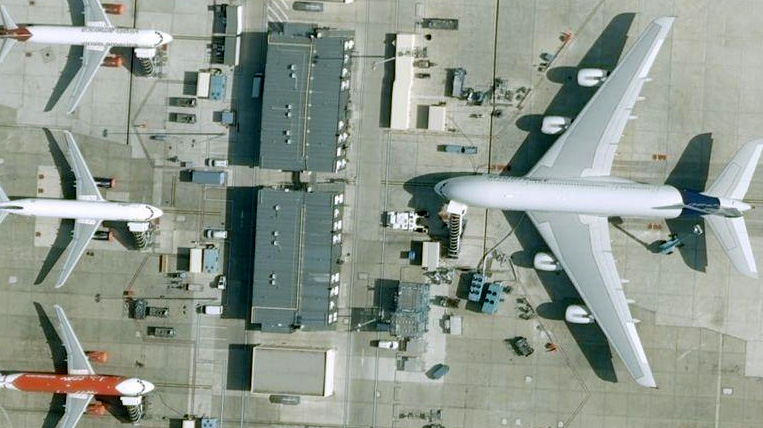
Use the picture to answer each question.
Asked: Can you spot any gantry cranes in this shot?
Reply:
No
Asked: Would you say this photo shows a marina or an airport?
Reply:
airport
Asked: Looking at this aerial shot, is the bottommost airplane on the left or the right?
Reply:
left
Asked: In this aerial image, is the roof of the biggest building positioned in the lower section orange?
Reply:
No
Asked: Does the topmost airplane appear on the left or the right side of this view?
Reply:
left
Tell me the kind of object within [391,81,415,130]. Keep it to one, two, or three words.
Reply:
shed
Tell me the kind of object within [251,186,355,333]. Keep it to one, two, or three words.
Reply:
building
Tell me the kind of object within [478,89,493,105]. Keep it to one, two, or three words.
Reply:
work vehicle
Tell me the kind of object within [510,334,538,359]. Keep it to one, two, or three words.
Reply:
work vehicle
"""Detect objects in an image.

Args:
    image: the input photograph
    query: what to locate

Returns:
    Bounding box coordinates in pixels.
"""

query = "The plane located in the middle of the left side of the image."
[0,130,162,291]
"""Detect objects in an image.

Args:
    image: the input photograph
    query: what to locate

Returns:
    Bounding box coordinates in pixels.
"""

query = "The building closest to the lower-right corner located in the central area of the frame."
[421,240,443,268]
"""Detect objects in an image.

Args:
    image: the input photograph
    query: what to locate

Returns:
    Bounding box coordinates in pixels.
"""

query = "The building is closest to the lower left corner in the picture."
[250,344,335,397]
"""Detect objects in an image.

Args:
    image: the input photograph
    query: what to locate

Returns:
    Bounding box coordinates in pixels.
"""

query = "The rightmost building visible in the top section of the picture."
[428,105,449,131]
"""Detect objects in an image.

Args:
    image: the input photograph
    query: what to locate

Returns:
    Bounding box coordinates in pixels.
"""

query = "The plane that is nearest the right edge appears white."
[434,16,763,388]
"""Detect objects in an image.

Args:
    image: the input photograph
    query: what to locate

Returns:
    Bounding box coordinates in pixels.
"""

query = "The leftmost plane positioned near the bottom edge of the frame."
[0,304,154,428]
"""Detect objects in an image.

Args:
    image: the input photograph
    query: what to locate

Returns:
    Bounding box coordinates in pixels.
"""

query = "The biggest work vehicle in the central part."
[390,210,431,233]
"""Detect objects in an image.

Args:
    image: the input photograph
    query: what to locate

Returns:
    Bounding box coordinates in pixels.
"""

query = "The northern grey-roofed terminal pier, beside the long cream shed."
[259,19,364,170]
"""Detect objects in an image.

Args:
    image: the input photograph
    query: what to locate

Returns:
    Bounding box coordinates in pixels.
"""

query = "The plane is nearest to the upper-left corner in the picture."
[0,0,172,117]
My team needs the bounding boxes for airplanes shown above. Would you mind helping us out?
[0,0,172,117]
[434,16,763,388]
[0,130,162,291]
[0,304,154,428]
